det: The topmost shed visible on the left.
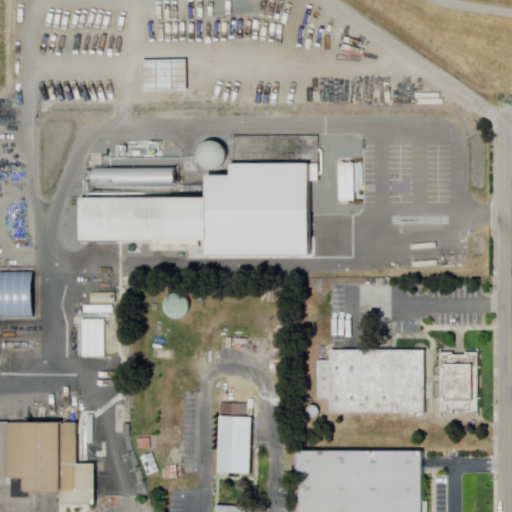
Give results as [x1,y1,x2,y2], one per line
[144,60,186,91]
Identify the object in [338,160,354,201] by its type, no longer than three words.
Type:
building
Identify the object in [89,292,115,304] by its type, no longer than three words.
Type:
shed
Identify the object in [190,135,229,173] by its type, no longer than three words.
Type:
storage tank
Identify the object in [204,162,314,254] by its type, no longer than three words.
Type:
building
